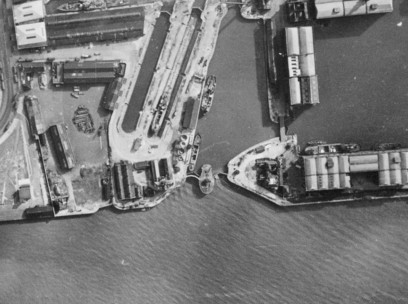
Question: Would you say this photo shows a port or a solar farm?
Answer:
port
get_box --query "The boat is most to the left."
[35,74,51,90]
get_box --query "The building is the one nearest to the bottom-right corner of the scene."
[375,168,408,185]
